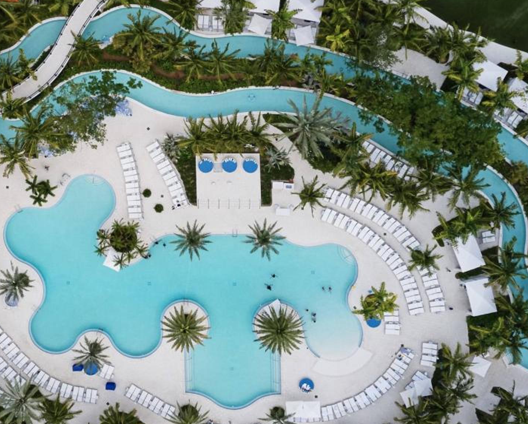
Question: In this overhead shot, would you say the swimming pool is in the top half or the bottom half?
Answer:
bottom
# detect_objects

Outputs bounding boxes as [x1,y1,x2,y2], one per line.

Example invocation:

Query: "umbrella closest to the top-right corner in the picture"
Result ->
[293,24,315,47]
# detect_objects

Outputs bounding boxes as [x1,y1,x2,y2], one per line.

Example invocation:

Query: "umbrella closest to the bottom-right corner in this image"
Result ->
[468,352,492,377]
